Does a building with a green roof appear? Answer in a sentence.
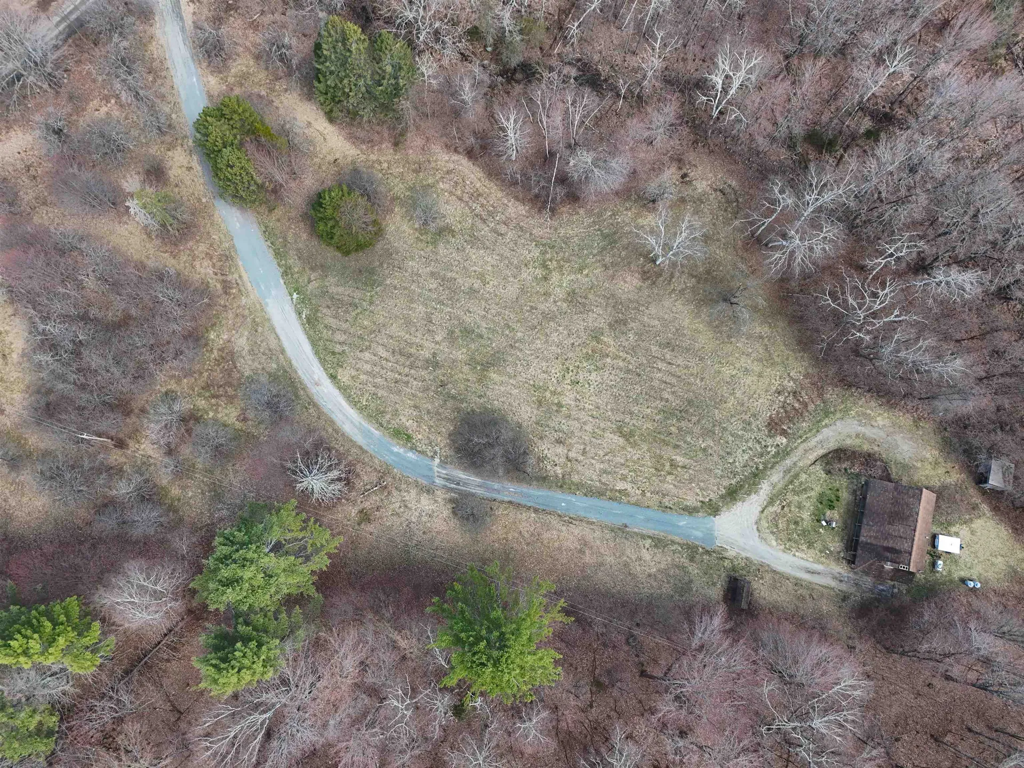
No, no building with a green roof is visible in the scene.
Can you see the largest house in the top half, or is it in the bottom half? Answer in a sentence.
The bottom half of the photo is where the largest house is.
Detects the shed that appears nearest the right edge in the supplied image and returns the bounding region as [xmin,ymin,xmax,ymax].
[964,460,1014,488]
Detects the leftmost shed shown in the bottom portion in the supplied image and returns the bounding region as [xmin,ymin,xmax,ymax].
[726,573,751,610]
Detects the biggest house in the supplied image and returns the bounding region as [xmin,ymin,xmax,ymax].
[837,478,936,585]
